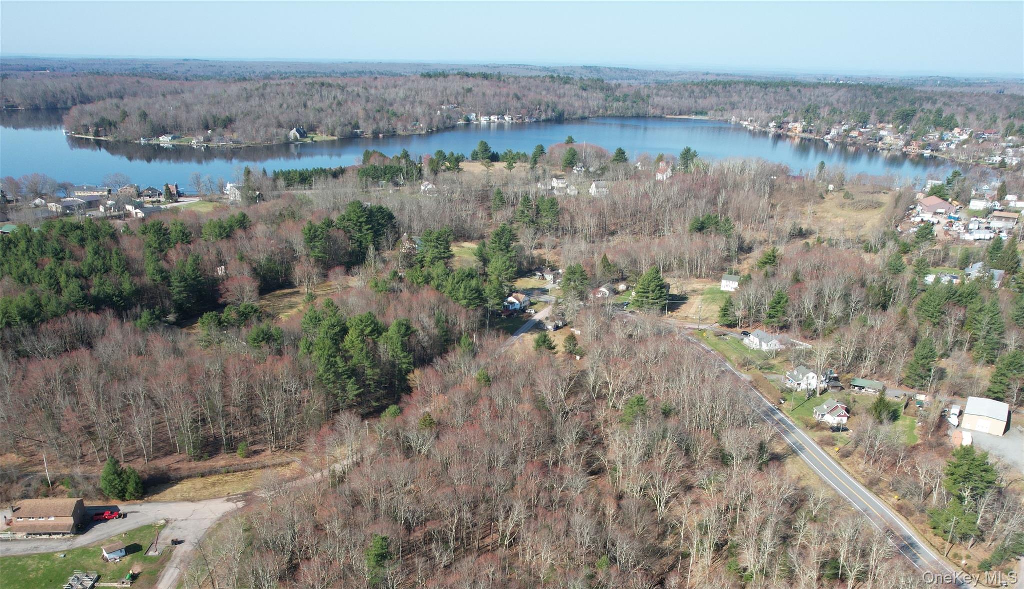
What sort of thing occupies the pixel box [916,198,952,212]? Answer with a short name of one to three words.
building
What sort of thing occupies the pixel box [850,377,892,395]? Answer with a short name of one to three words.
shed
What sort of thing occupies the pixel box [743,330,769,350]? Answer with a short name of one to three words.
house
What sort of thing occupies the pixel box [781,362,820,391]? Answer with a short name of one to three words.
house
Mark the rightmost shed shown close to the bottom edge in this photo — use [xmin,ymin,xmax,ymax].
[100,539,127,562]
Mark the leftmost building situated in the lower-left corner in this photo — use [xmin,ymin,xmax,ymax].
[3,495,95,544]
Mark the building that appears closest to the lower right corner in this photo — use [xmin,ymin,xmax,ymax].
[961,395,1011,438]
